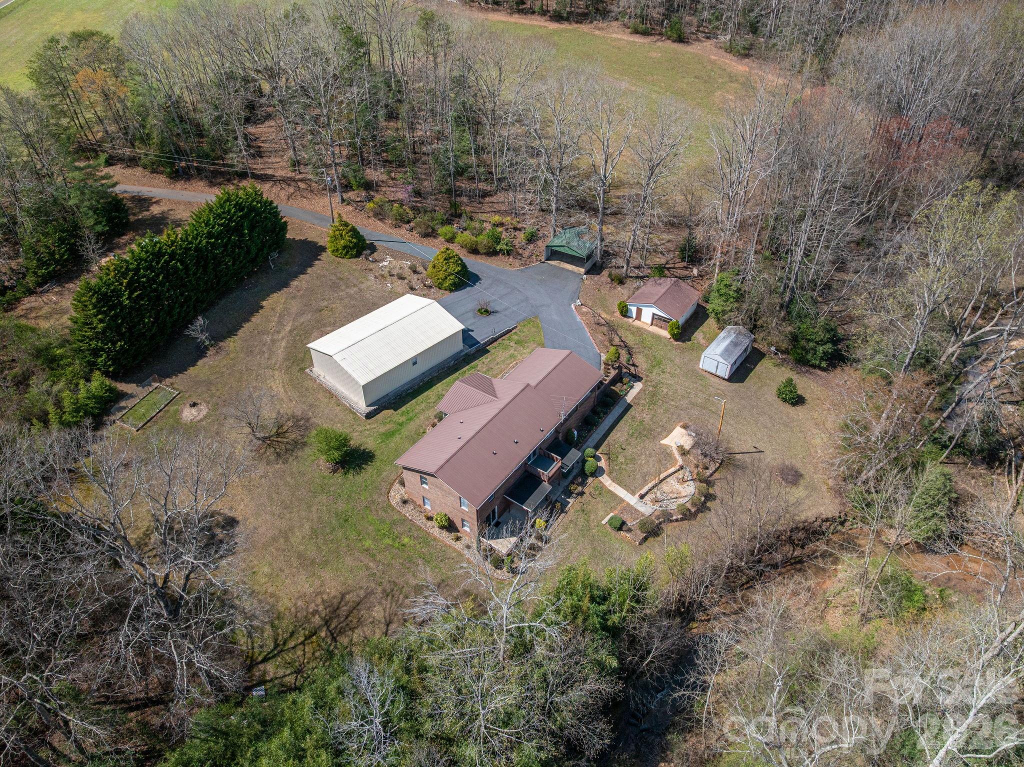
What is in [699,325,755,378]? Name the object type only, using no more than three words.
shed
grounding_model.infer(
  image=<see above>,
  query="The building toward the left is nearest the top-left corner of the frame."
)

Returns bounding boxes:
[306,294,465,407]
